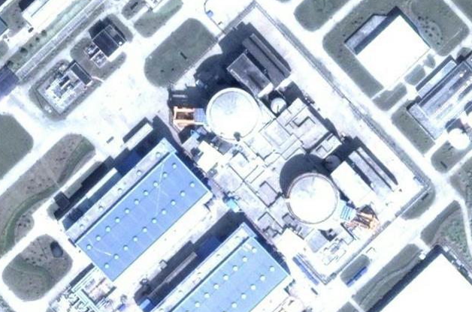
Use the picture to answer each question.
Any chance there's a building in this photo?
Yes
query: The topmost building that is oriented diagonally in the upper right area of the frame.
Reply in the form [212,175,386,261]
[344,15,387,50]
